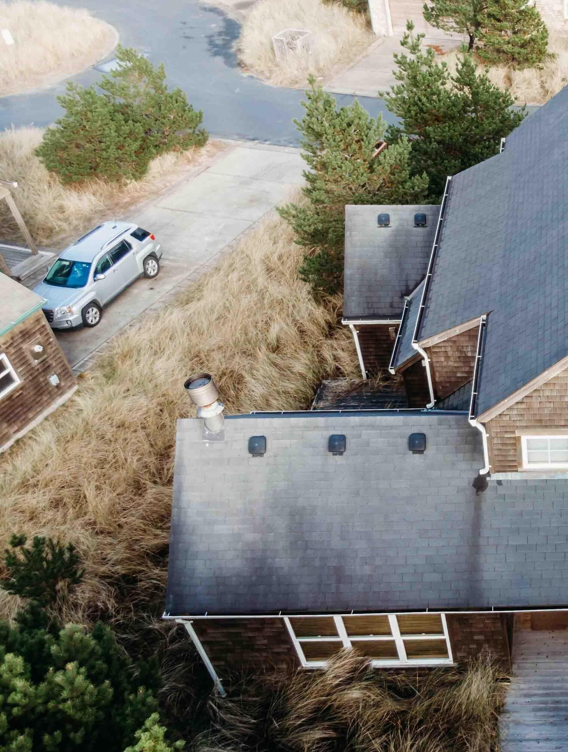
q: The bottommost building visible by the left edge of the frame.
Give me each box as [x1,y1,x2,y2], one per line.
[0,267,78,454]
